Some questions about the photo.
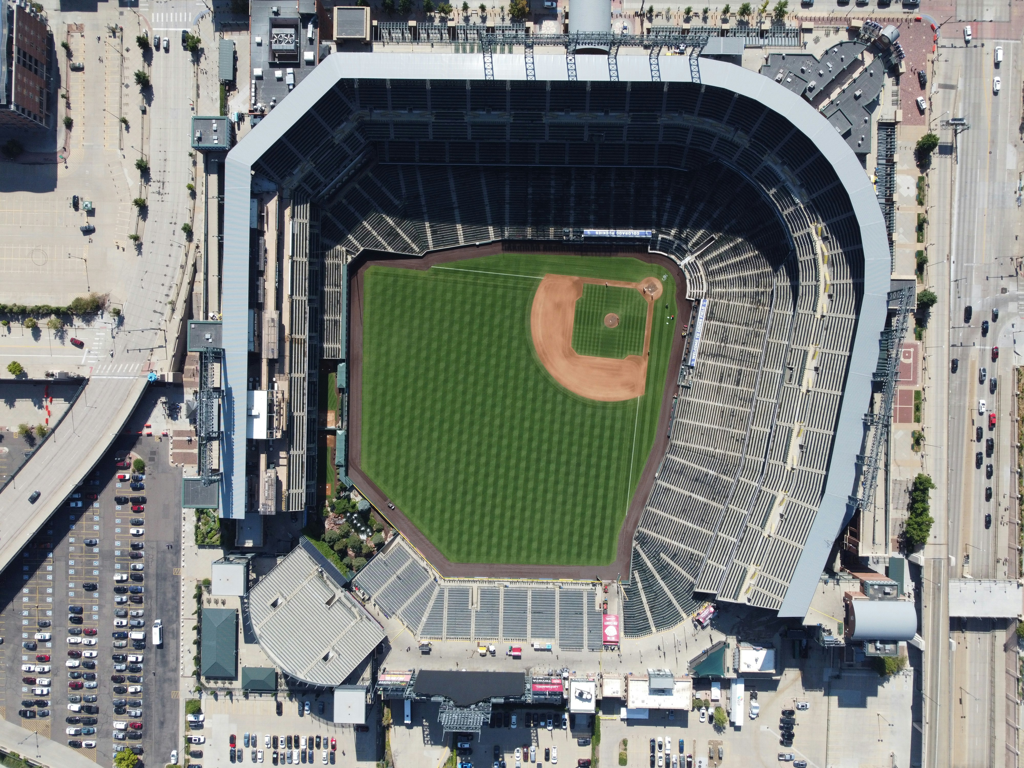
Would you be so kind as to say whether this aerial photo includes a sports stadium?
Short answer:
Yes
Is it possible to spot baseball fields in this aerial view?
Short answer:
Yes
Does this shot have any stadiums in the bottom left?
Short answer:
No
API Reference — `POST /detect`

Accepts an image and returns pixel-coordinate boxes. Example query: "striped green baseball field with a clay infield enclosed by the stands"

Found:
[344,238,700,581]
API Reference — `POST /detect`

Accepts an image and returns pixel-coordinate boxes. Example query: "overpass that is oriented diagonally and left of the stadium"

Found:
[0,381,150,572]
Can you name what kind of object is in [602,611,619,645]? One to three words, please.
vehicle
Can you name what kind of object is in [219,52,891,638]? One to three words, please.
stadium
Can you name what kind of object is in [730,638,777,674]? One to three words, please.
building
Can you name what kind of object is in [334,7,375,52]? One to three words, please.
building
